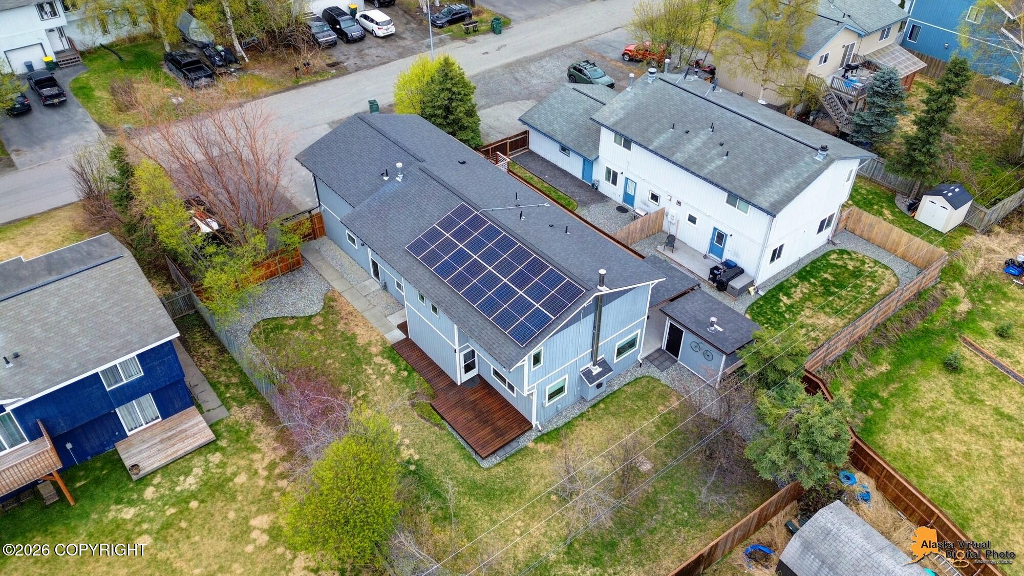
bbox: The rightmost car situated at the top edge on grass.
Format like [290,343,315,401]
[430,2,476,29]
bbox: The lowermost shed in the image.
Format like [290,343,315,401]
[774,495,959,576]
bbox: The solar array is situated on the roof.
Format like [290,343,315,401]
[405,201,585,345]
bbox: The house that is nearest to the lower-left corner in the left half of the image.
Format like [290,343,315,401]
[0,232,196,508]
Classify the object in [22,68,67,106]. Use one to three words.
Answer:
truck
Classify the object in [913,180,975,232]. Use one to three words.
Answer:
shed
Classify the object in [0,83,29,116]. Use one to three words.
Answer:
car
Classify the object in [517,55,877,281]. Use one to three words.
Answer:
house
